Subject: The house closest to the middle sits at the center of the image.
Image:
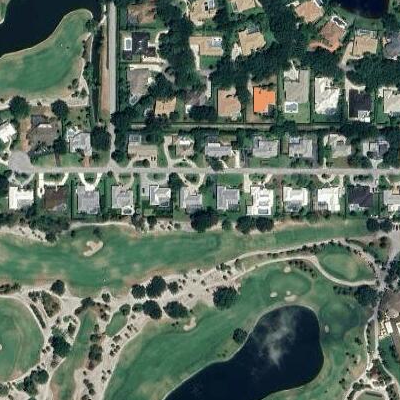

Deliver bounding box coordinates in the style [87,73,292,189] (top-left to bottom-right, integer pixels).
[179,187,204,210]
